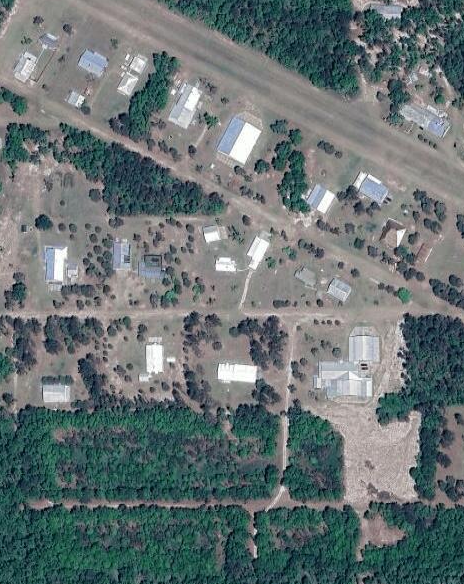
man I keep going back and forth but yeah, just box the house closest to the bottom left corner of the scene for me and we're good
[42,384,69,402]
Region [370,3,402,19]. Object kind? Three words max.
house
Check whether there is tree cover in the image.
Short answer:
Yes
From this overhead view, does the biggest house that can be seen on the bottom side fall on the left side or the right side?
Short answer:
right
